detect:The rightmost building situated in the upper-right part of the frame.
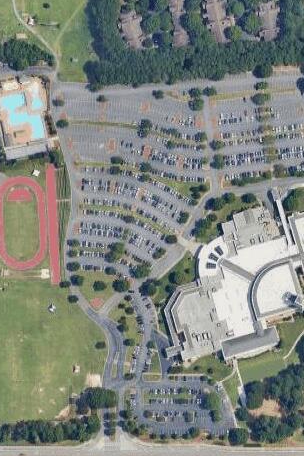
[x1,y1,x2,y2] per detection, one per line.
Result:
[255,0,281,42]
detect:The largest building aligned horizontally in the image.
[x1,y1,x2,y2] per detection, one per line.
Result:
[3,143,49,159]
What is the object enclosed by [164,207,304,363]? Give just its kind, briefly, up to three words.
building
